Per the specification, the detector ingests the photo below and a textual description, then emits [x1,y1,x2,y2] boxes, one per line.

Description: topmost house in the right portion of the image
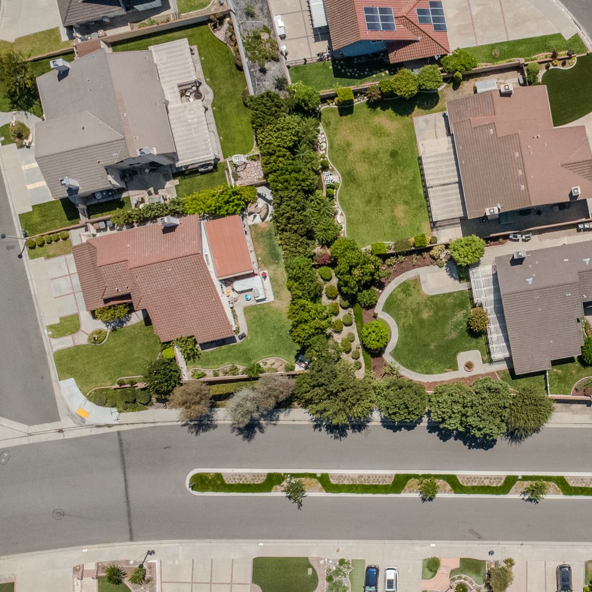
[325,0,450,65]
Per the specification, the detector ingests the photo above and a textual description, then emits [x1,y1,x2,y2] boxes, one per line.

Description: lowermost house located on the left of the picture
[71,214,237,344]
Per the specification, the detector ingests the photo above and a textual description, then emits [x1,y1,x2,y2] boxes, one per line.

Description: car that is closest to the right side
[556,563,574,592]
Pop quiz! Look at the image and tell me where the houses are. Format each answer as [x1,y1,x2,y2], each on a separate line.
[35,47,184,199]
[71,214,237,344]
[57,0,132,28]
[446,82,592,222]
[495,240,592,375]
[325,0,450,65]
